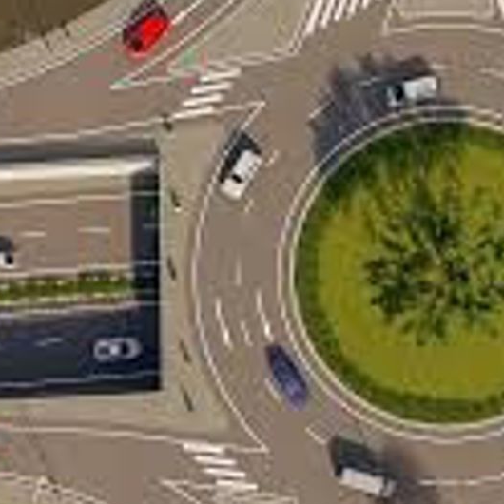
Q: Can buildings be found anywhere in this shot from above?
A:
No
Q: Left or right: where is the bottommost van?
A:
right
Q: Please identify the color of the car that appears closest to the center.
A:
white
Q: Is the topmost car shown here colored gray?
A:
No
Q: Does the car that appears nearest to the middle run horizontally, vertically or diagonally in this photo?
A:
diagonally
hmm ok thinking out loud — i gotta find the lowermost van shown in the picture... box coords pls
[335,455,393,493]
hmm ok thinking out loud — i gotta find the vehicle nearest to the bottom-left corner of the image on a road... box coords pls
[95,340,140,359]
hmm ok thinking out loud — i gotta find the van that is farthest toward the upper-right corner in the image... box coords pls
[386,75,440,105]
